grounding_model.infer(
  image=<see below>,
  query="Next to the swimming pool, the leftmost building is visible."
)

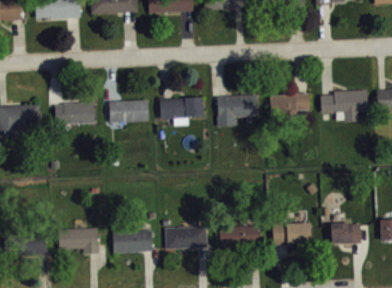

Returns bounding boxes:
[160,96,205,126]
